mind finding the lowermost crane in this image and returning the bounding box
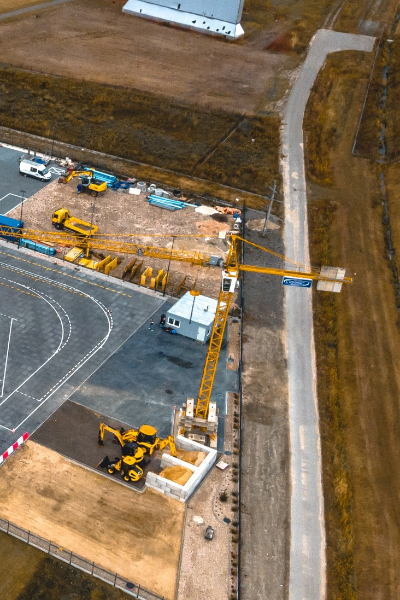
[0,222,352,460]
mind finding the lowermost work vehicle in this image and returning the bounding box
[97,453,144,485]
